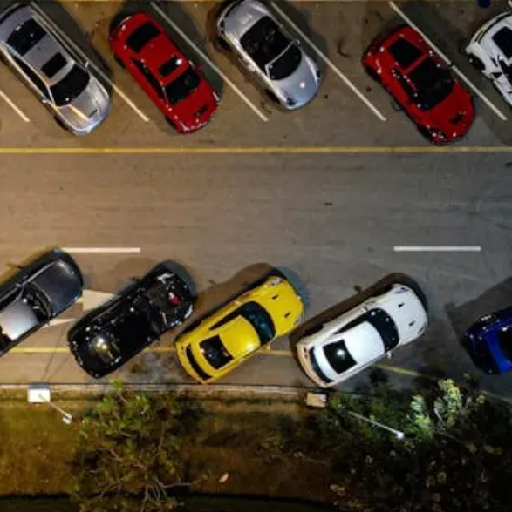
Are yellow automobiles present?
Yes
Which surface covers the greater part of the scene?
paved ground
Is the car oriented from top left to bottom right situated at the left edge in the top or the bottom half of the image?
top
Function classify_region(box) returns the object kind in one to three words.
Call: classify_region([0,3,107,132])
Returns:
car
